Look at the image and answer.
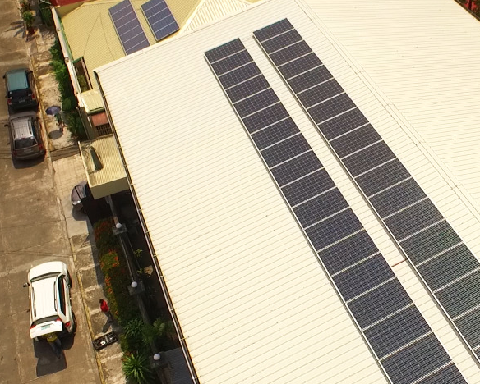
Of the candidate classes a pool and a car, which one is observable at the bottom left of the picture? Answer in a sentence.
Looking at the bottom left of the picture, you will find a car.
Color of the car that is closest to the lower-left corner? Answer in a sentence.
The car that is closest to the lower-left corner is white.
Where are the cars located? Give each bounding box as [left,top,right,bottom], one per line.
[0,70,40,117]
[26,265,81,353]
[5,114,47,165]
[67,186,135,218]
